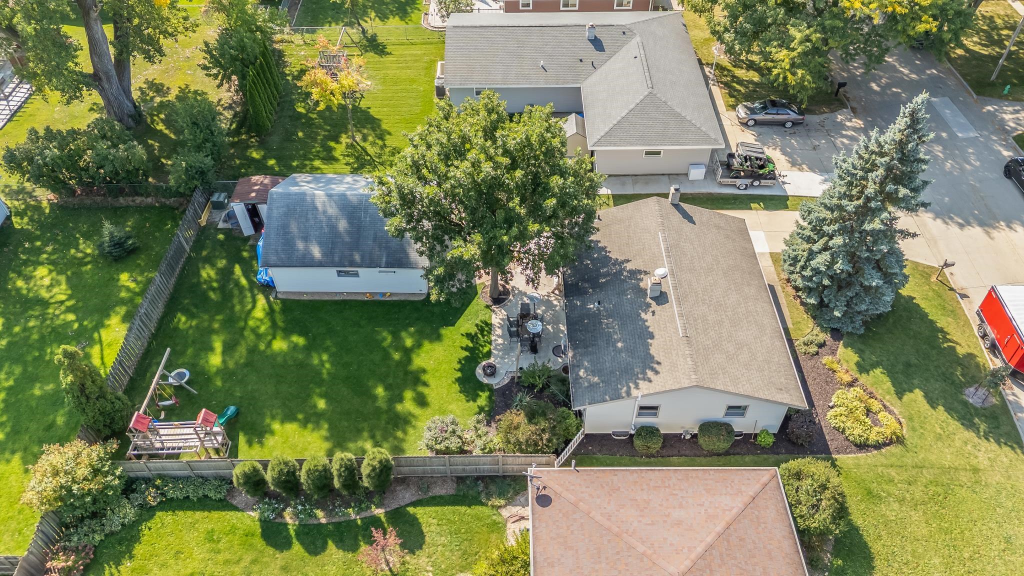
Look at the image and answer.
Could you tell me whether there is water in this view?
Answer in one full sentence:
No, there's no water in this view.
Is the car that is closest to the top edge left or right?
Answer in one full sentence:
The car that is closest to the top edge appears in the right half of the scene.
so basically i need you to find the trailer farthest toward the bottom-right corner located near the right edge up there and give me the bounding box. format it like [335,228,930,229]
[977,285,1024,363]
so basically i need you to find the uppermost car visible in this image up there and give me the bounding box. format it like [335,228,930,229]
[735,98,805,128]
